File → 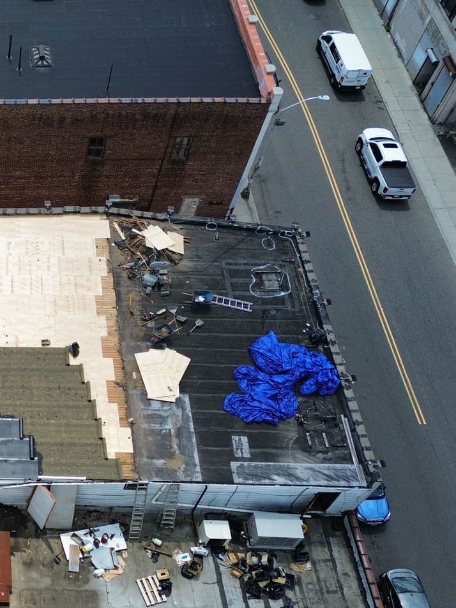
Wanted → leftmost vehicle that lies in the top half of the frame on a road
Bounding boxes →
[314,36,375,92]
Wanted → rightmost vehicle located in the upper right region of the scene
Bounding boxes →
[353,129,421,199]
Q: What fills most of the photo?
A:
buildings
